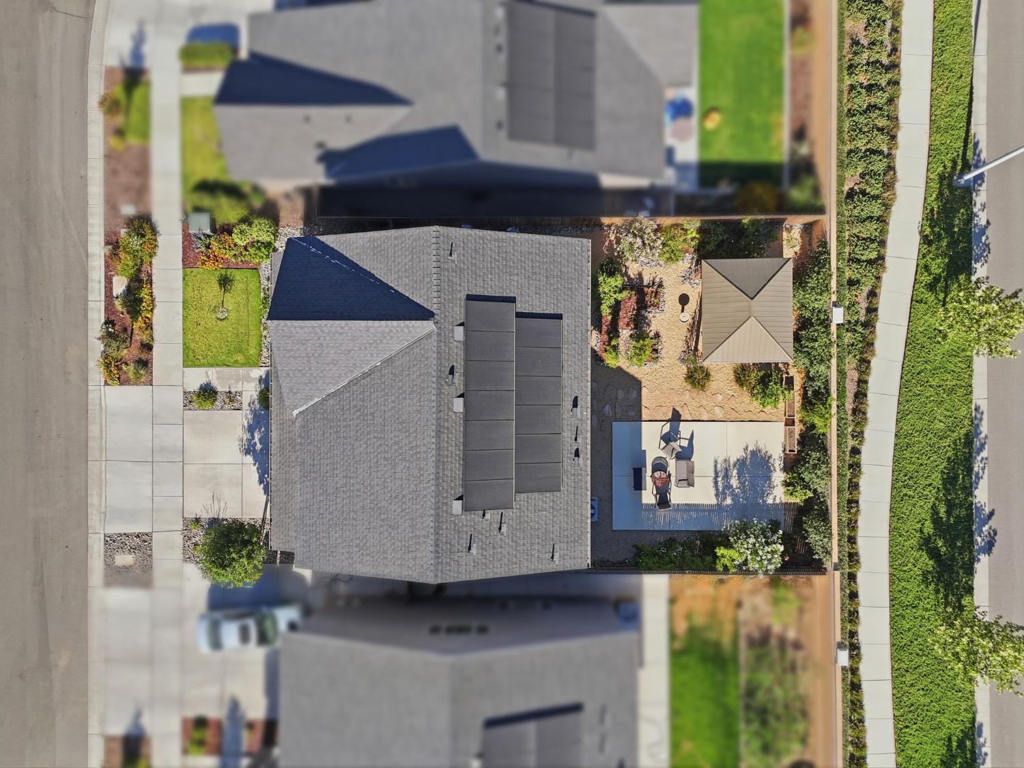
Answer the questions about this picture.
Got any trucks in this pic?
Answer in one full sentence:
No, there appears to be no truck in this shot.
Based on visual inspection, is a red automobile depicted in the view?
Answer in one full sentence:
No, there isn't any red automobile down there.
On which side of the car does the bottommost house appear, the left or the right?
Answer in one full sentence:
To the right of the car is where the bottommost house appears.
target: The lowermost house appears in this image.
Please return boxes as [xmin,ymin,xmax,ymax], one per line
[276,598,643,768]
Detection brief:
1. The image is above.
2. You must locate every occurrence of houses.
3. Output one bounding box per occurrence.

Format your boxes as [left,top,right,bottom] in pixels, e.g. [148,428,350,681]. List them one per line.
[276,598,643,768]
[211,0,700,193]
[268,226,593,583]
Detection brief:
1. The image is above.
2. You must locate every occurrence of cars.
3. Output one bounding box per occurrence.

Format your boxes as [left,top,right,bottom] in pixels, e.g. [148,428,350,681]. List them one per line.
[194,599,304,655]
